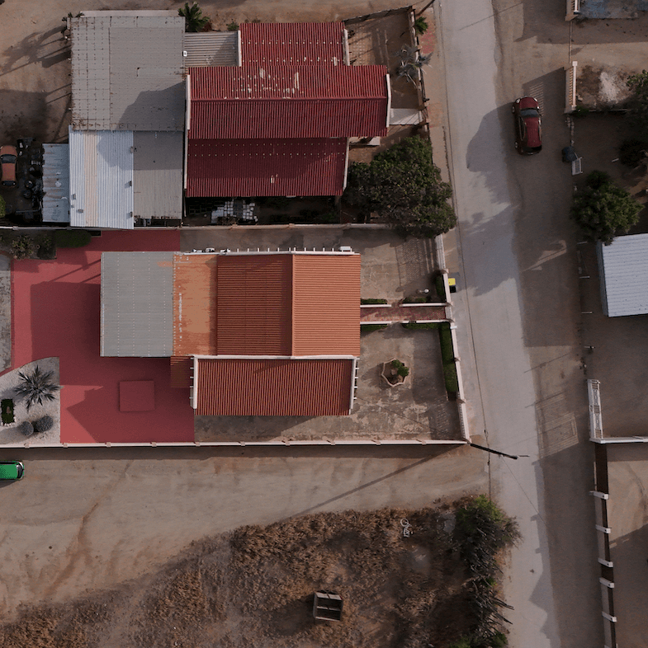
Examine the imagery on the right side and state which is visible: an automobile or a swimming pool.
automobile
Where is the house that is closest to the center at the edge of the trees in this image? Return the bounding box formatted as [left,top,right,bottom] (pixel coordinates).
[171,248,360,416]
